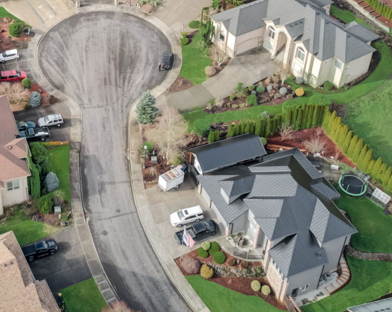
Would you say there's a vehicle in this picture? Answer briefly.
Yes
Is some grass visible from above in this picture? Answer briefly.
Yes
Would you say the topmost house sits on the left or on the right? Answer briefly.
right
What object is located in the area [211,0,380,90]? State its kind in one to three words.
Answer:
house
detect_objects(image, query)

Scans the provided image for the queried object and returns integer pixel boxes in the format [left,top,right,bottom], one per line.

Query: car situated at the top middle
[161,50,173,69]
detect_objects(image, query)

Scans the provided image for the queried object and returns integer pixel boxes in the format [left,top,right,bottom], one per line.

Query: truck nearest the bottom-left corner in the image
[20,234,61,257]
